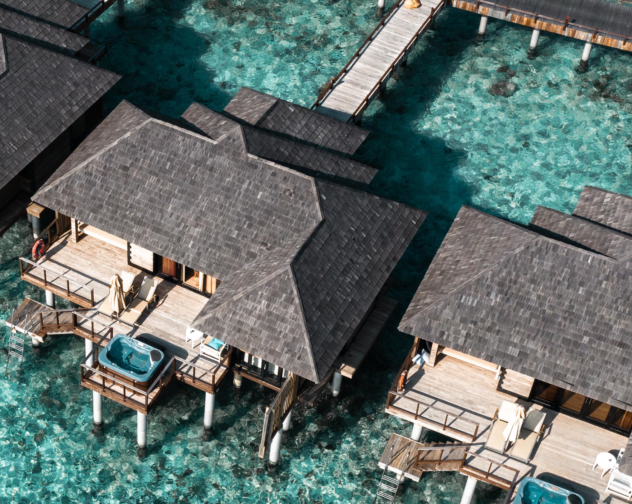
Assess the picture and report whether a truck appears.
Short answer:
No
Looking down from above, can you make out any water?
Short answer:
Yes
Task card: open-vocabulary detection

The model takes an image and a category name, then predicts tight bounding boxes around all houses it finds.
[4,87,431,464]
[365,185,632,504]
